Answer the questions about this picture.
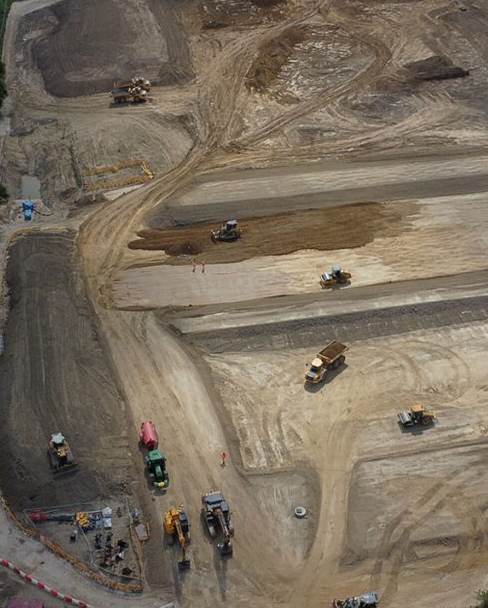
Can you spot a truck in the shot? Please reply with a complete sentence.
Yes, a truck can be made out from above.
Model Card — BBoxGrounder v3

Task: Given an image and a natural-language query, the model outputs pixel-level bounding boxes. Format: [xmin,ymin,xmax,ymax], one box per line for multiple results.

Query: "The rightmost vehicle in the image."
[398,405,436,427]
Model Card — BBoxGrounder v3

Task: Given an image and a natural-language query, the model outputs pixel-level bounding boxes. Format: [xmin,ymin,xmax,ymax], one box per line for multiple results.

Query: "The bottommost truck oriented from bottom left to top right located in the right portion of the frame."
[303,340,350,385]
